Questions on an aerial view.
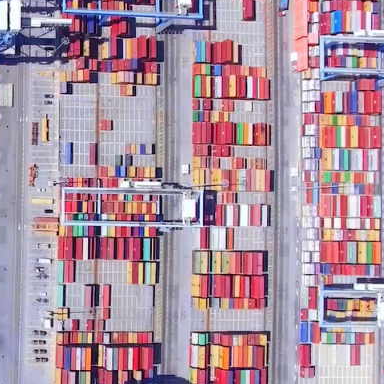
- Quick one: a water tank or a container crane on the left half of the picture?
container crane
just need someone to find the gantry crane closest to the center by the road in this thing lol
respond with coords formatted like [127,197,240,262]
[60,181,206,235]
